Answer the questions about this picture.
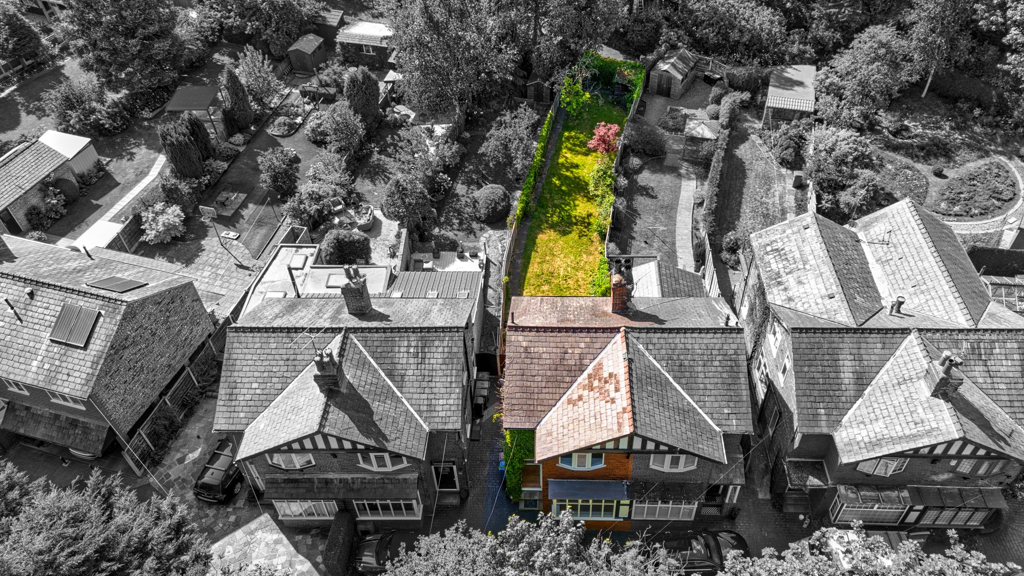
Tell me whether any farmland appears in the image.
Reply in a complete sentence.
No, the scene doesn't show any farmland.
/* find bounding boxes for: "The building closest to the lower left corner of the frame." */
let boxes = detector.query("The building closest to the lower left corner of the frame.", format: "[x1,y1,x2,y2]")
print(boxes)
[0,237,222,463]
